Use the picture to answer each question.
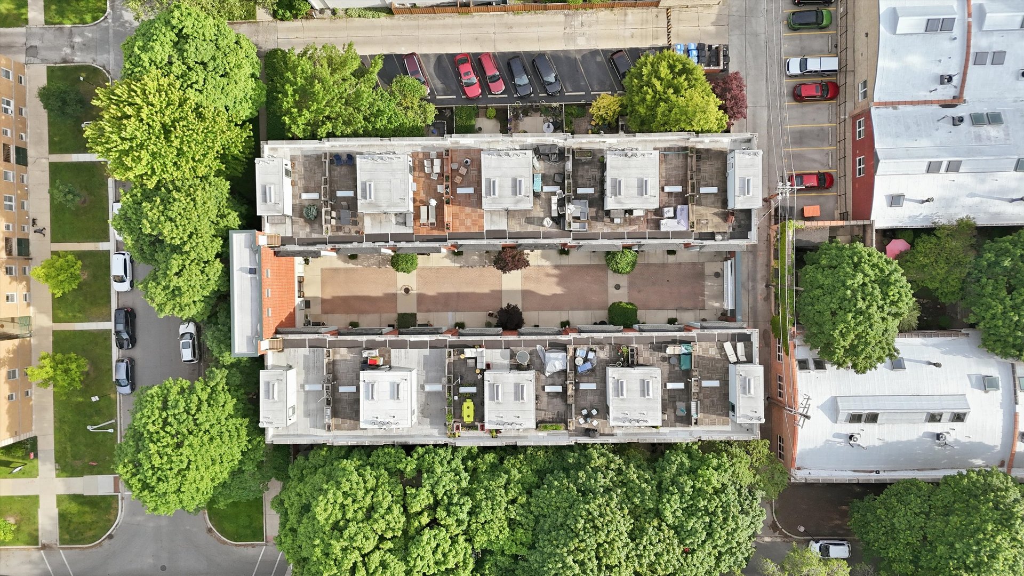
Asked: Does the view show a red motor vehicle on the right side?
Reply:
Yes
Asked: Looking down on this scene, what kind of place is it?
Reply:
industrial area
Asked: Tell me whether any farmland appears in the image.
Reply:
No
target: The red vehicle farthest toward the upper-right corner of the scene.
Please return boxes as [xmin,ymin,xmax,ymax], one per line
[793,80,838,102]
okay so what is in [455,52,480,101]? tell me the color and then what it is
red car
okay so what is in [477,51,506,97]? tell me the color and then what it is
red car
